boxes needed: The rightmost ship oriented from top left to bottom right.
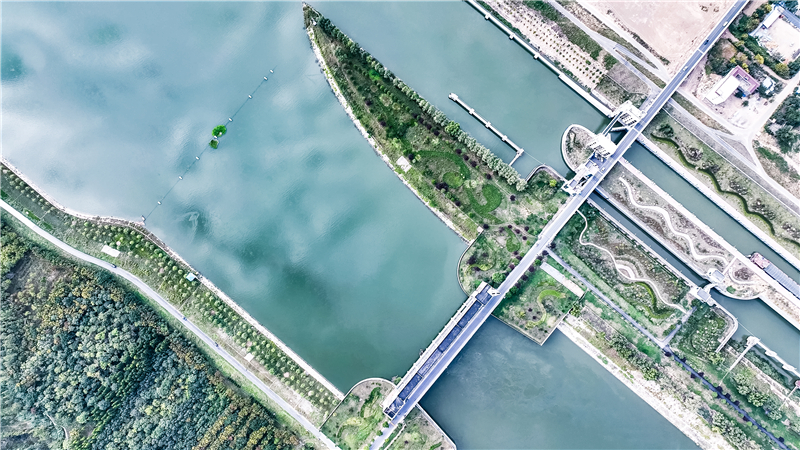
[753,252,800,297]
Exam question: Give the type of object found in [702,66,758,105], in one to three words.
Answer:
building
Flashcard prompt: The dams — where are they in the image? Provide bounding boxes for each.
[380,284,493,420]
